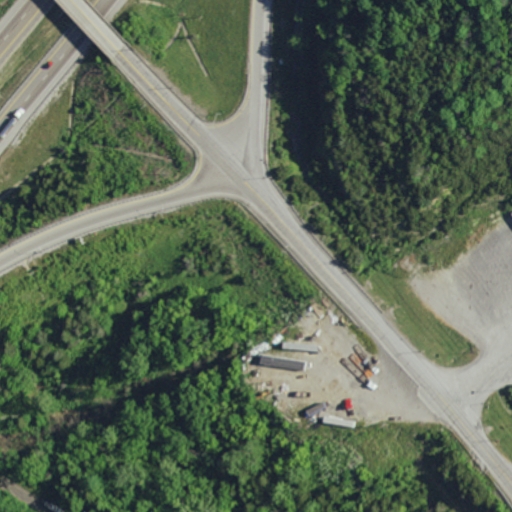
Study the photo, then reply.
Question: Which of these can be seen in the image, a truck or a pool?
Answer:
truck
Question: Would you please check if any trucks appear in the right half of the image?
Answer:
Yes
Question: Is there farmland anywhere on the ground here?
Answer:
No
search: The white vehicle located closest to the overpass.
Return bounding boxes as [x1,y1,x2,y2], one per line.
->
[0,108,24,144]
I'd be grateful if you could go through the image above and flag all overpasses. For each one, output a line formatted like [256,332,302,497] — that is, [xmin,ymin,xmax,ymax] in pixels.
[55,0,128,60]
